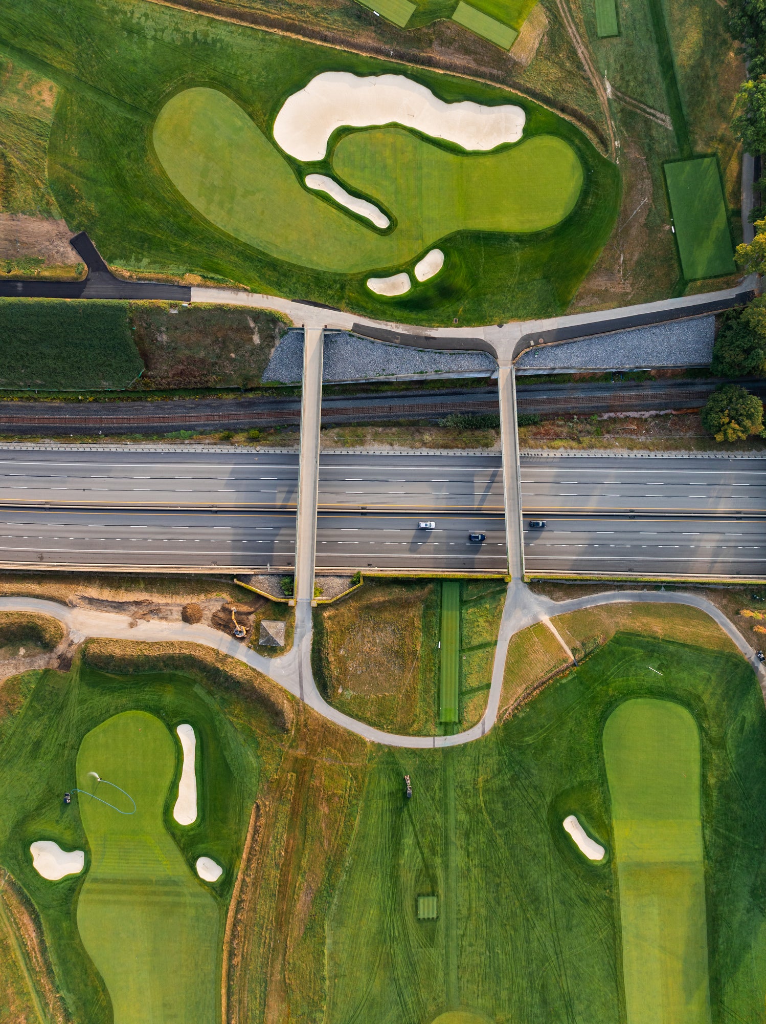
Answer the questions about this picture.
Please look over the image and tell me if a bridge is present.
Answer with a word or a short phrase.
Yes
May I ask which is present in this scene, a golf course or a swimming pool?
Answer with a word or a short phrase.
golf course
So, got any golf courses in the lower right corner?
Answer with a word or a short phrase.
Yes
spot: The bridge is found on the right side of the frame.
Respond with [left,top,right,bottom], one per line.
[492,365,526,580]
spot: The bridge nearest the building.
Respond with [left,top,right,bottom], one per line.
[293,327,324,600]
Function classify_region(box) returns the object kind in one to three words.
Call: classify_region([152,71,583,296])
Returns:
golf course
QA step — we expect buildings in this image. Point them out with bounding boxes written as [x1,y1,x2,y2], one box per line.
[258,621,284,648]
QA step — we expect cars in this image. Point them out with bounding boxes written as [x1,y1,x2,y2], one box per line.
[419,521,436,529]
[530,520,547,528]
[469,534,486,541]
